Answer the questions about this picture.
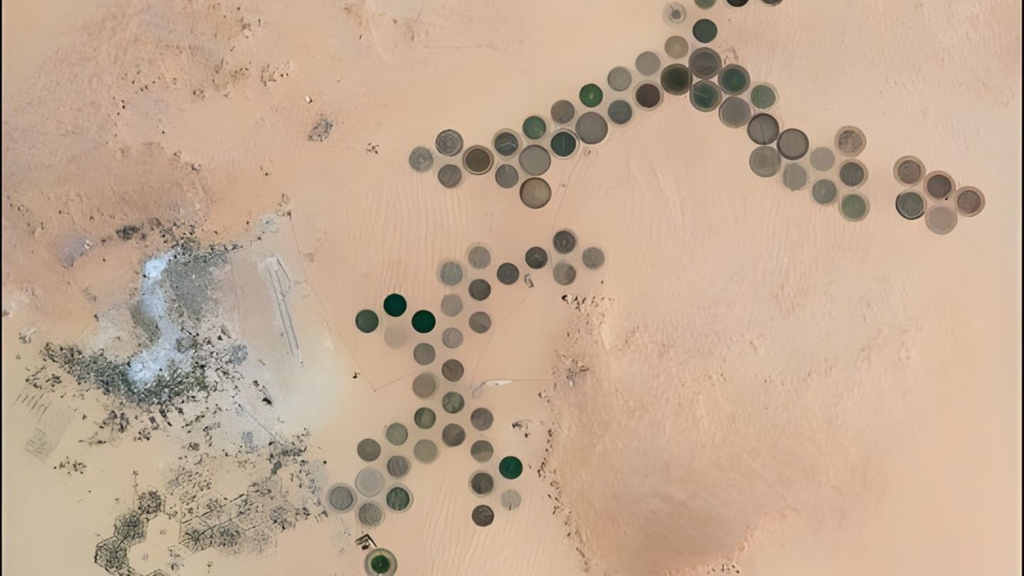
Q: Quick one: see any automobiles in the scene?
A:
No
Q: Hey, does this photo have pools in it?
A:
No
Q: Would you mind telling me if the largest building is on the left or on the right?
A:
left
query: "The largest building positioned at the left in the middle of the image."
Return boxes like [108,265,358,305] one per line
[165,249,231,324]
